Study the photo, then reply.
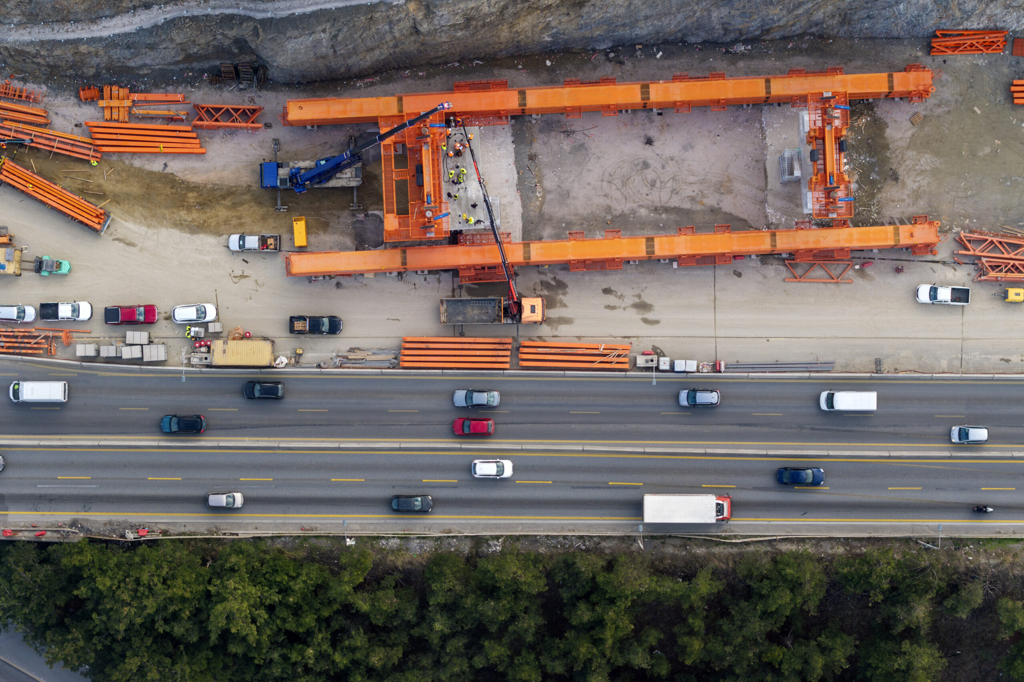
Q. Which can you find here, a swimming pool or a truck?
truck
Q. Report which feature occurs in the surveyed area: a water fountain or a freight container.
freight container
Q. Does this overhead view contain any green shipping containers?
No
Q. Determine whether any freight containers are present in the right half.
No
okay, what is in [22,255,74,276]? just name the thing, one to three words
work vehicle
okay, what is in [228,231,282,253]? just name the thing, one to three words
truck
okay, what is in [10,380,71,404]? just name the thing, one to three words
vehicle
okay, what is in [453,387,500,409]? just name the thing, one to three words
car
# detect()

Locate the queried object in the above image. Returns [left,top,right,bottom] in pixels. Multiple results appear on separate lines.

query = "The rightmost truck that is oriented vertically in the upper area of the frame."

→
[441,120,546,350]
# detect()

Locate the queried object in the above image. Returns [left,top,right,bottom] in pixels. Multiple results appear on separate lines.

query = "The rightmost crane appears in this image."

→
[261,101,454,212]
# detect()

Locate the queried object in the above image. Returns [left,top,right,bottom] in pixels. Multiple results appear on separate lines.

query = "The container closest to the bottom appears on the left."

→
[211,340,275,366]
